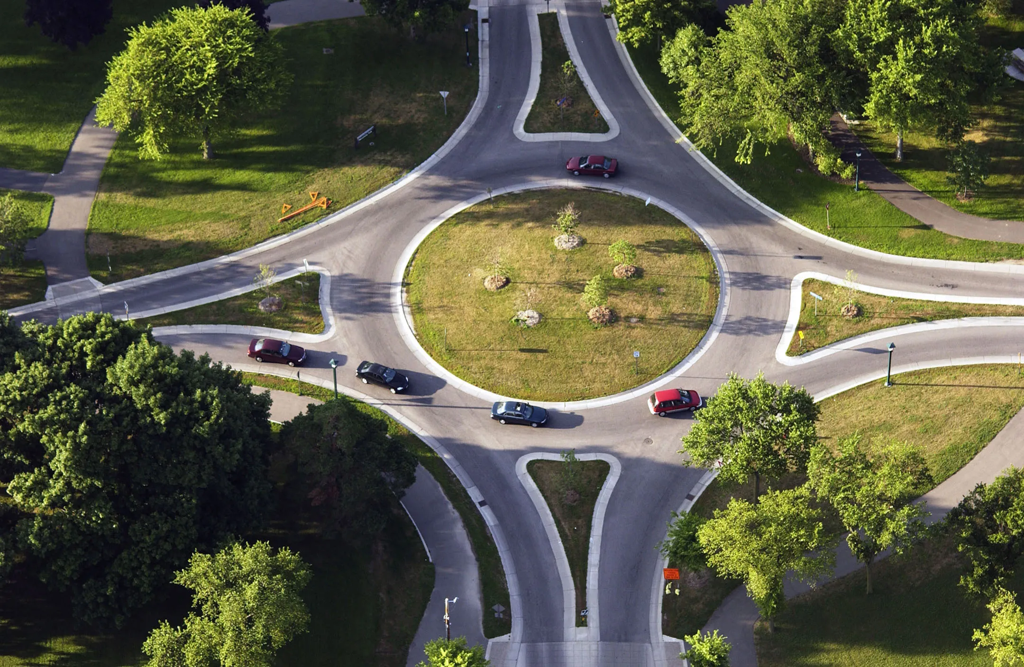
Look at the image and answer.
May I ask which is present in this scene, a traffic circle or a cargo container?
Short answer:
traffic circle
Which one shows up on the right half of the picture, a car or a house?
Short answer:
car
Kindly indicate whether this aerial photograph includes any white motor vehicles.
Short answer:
No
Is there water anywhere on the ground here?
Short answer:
No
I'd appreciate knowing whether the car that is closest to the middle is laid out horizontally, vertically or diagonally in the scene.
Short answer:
horizontally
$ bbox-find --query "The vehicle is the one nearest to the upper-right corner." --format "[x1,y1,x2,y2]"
[566,153,619,178]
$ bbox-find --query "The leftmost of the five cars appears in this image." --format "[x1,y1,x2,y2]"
[246,338,308,367]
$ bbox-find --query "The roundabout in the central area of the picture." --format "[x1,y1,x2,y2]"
[338,146,784,450]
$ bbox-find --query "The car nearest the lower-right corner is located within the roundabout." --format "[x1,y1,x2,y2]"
[647,387,703,416]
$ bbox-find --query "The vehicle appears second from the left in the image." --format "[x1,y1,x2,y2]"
[353,360,413,394]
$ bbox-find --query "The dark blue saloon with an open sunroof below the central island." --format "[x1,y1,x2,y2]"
[489,399,550,427]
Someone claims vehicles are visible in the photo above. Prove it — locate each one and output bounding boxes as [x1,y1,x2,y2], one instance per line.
[246,338,308,367]
[647,387,703,416]
[353,360,413,394]
[566,153,619,178]
[489,399,550,427]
